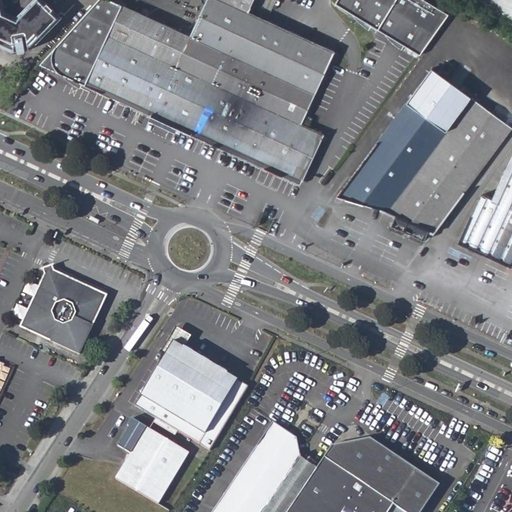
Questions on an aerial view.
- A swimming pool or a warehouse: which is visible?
warehouse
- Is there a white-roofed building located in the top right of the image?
Yes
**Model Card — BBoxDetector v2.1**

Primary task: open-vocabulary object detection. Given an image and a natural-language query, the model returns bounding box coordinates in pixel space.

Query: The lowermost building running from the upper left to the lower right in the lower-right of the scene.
[326,438,440,512]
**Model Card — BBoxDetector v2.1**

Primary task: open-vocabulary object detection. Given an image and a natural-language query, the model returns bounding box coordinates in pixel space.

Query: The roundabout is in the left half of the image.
[165,222,214,272]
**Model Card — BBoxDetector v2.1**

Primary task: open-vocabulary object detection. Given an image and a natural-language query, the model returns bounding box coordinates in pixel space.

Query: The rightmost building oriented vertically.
[460,142,512,266]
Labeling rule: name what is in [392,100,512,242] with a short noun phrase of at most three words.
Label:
warehouse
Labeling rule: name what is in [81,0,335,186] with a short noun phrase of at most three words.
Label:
warehouse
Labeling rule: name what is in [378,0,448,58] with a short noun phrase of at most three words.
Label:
building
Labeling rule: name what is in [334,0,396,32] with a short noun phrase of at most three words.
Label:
building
